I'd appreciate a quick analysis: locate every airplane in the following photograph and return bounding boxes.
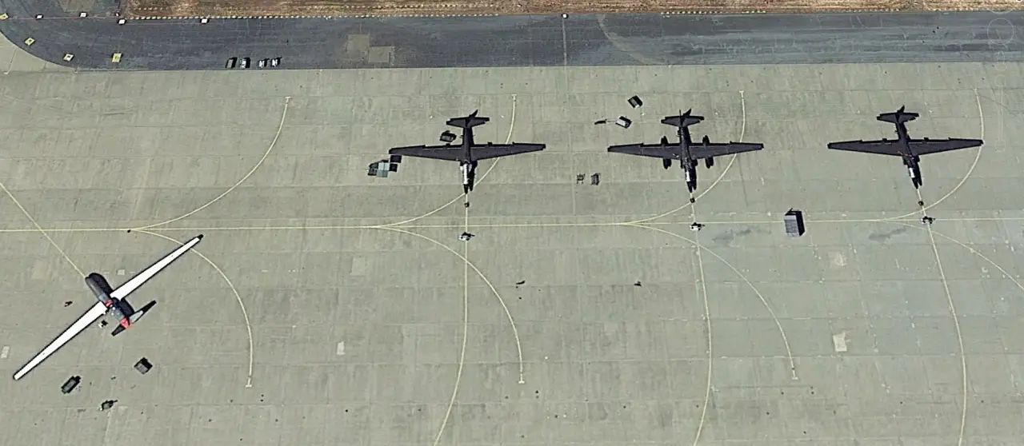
[608,112,761,193]
[390,116,544,194]
[13,238,200,379]
[828,110,981,190]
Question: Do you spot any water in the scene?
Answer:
No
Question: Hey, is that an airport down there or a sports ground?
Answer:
airport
